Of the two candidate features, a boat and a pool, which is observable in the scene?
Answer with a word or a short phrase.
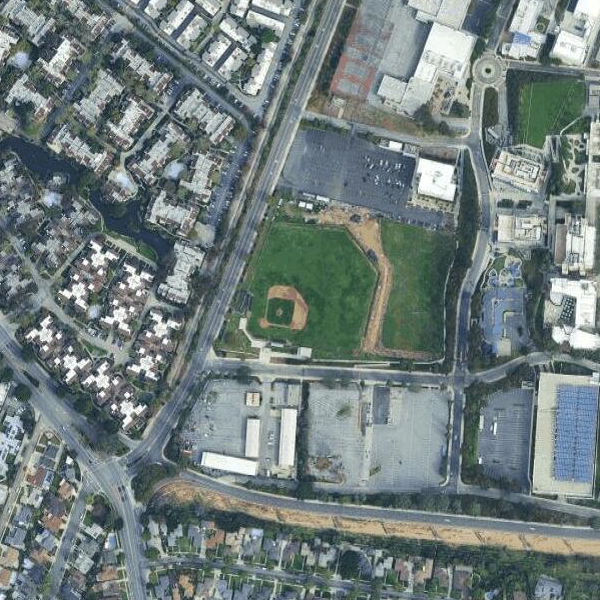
pool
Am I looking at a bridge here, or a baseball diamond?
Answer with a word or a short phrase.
baseball diamond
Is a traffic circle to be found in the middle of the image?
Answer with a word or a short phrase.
No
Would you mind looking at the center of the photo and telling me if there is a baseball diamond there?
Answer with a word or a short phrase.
Yes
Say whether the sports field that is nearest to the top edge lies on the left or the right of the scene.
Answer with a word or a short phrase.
right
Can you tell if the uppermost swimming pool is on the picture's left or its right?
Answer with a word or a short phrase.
left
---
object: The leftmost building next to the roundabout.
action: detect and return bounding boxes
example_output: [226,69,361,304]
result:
[377,0,479,115]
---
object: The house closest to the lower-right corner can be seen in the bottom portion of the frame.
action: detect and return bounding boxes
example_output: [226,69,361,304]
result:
[536,578,562,600]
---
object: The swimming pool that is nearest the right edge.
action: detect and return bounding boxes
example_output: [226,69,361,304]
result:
[164,157,184,179]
